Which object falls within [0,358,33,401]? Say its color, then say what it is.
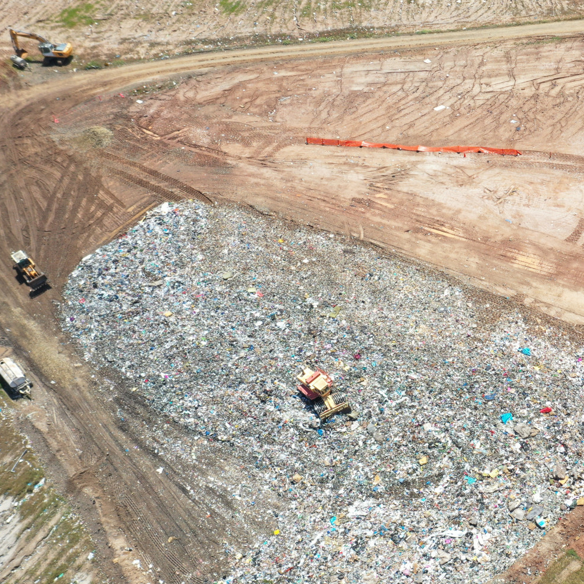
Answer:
white trailer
